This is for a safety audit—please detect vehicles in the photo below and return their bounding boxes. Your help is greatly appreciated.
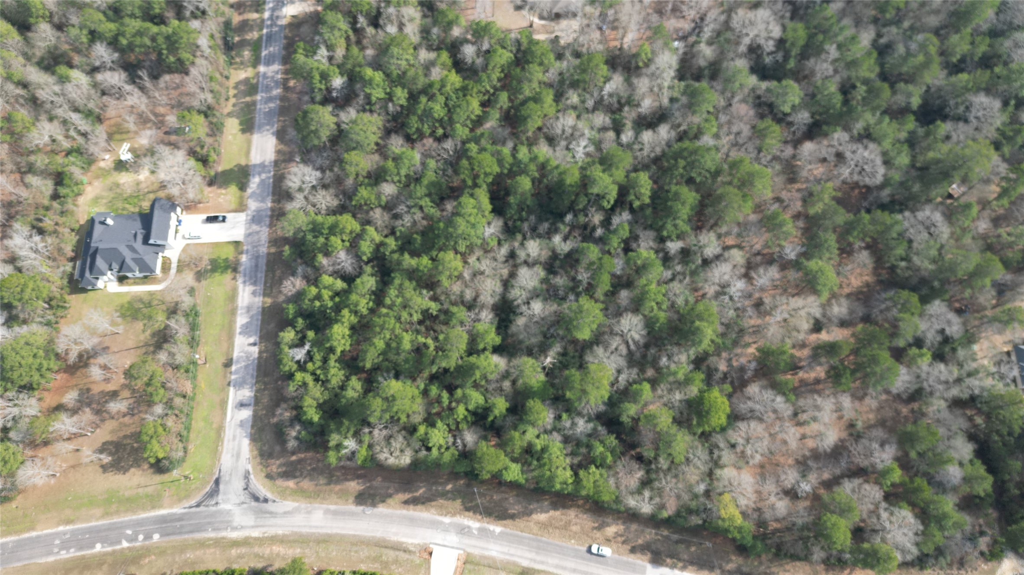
[205,215,227,224]
[184,231,202,240]
[591,545,612,558]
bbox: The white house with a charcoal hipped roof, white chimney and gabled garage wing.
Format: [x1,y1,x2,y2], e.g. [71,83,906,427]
[73,196,184,291]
